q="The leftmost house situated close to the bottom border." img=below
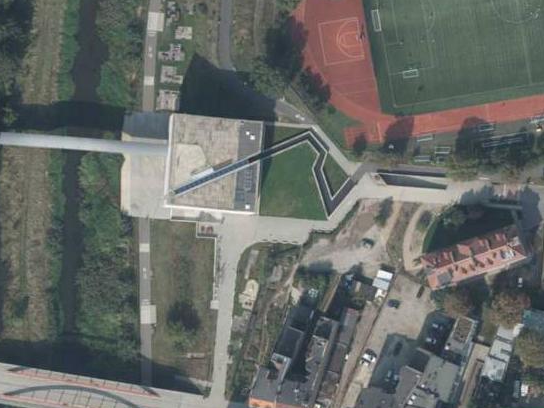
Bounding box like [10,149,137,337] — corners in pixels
[246,363,283,408]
